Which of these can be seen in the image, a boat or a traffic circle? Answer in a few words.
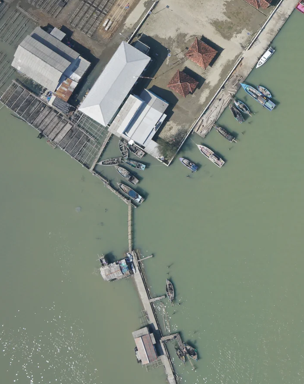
boat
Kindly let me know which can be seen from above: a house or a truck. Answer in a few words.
house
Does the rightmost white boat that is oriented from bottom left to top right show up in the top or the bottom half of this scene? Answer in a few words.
top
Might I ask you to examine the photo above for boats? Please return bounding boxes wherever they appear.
[215,125,235,144]
[124,142,144,157]
[255,46,276,68]
[239,83,276,111]
[179,158,198,172]
[125,161,146,169]
[196,145,225,167]
[115,166,139,184]
[119,141,130,159]
[234,101,251,115]
[98,158,123,166]
[229,105,244,123]
[184,342,199,362]
[257,86,272,99]
[117,183,144,204]
[166,279,175,301]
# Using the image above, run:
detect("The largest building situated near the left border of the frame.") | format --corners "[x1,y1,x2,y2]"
[12,35,76,92]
